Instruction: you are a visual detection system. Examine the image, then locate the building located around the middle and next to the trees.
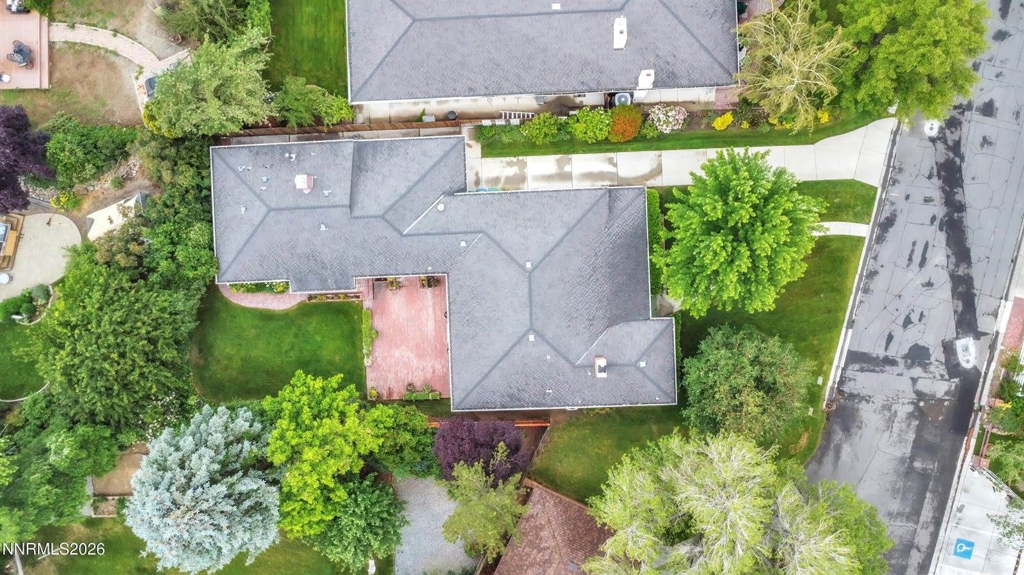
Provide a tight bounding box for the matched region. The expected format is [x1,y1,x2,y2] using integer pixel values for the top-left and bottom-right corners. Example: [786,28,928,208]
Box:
[208,133,679,412]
